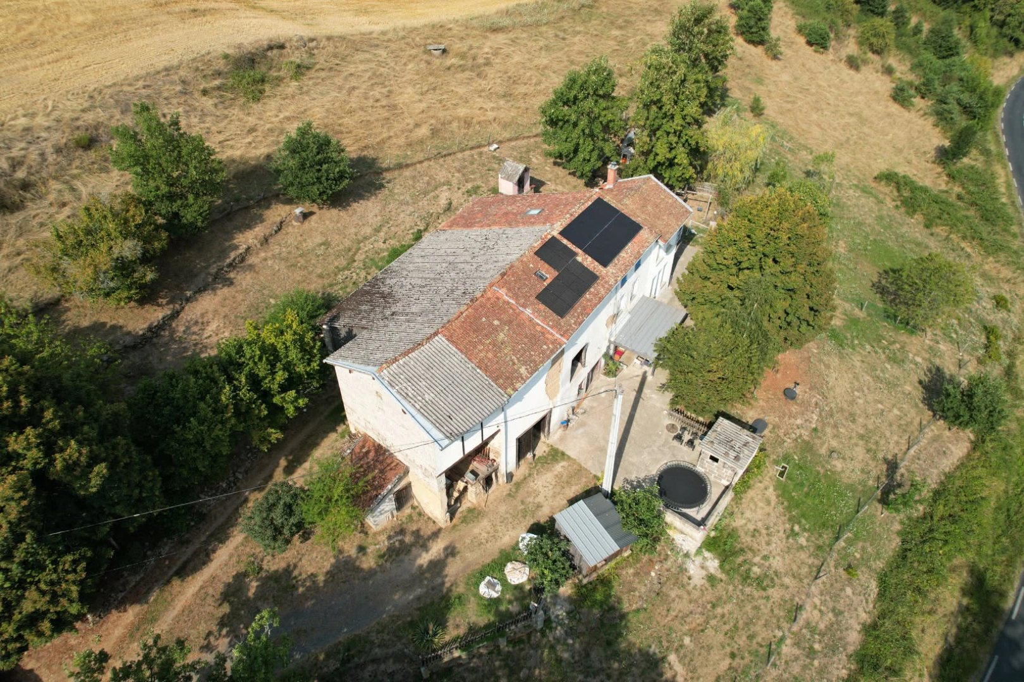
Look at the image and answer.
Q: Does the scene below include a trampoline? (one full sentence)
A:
Yes, a trampoline appears in the view.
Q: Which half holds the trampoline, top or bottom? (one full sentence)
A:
You can find the trampoline in the bottom half.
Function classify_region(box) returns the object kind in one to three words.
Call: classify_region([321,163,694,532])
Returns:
house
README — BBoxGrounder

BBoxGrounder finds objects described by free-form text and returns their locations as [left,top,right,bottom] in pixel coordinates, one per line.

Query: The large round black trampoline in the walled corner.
[655,463,712,516]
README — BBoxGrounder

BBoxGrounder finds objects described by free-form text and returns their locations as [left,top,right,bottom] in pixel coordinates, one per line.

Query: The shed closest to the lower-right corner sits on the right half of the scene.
[697,417,762,497]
